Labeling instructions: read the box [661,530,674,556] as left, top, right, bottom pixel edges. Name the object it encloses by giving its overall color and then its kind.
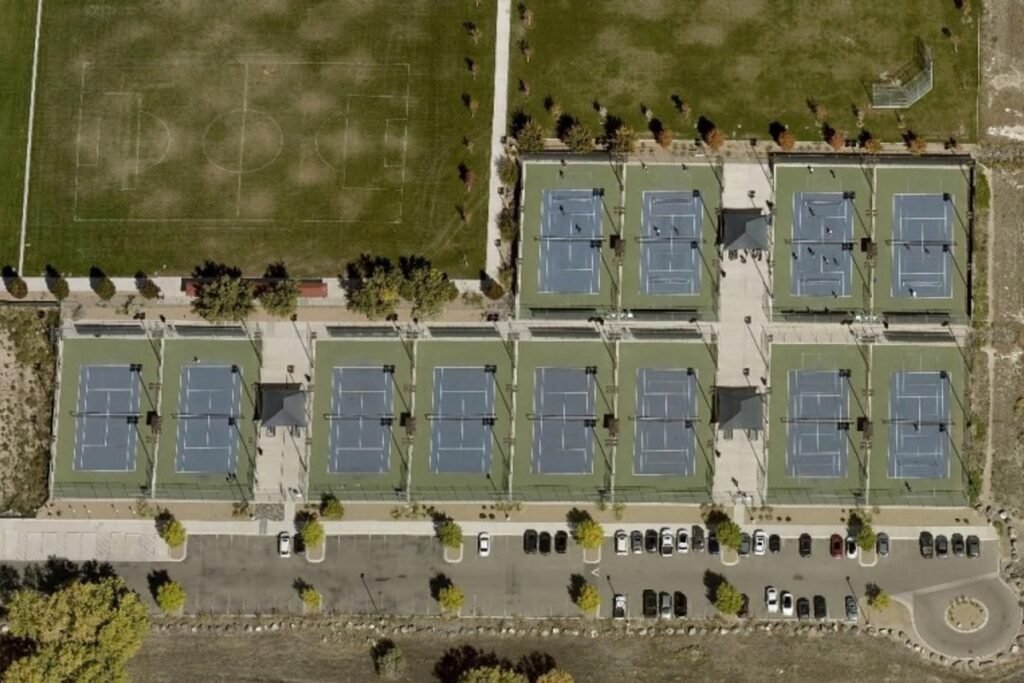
white vehicle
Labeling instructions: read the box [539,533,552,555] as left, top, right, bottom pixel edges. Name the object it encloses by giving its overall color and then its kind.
black vehicle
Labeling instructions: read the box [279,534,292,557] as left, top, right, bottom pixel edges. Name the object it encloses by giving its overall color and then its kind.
white vehicle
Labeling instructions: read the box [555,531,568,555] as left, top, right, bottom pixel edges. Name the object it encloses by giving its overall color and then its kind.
black vehicle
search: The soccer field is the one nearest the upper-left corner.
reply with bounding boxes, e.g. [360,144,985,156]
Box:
[25,0,497,278]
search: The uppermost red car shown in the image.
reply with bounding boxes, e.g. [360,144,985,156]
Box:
[830,535,843,557]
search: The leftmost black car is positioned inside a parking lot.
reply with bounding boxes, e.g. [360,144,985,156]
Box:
[293,535,305,558]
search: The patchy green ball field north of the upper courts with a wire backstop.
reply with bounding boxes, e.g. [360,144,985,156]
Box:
[504,0,979,142]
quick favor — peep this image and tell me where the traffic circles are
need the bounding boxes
[909,569,1023,660]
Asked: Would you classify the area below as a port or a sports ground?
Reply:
sports ground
